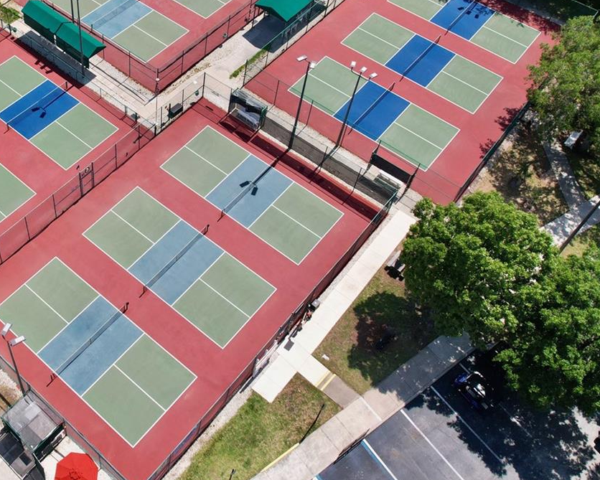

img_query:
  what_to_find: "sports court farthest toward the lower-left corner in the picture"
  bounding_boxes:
[0,256,195,446]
